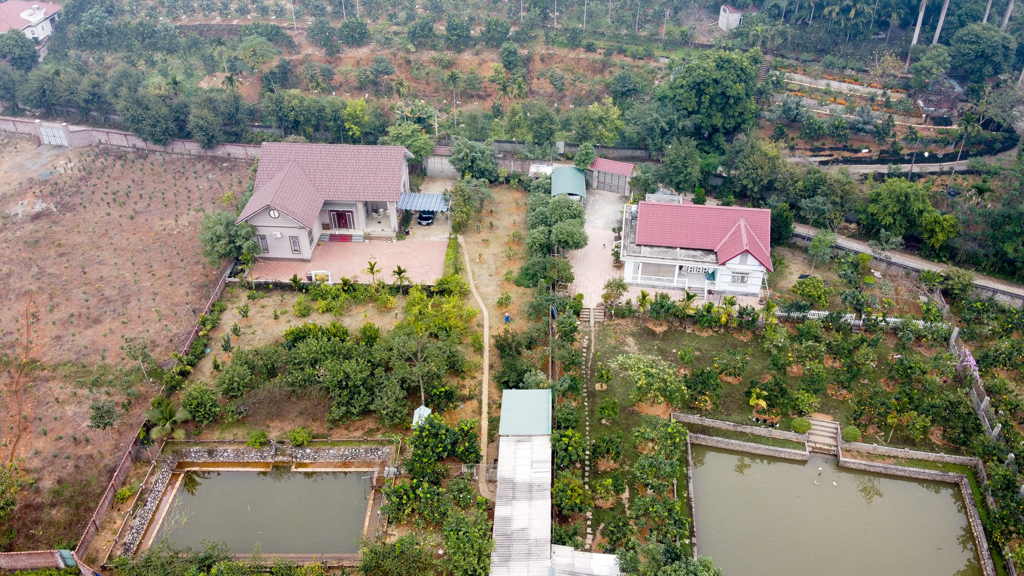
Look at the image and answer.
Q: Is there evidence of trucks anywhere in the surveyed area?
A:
No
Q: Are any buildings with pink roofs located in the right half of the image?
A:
Yes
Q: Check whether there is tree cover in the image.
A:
Yes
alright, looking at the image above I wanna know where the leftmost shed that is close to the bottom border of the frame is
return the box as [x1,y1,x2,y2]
[497,435,560,576]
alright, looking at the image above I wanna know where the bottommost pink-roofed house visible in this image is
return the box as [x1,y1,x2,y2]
[620,191,775,301]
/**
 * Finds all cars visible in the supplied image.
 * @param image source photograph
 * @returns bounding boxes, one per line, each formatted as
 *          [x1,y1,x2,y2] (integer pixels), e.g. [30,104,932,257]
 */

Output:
[418,211,436,225]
